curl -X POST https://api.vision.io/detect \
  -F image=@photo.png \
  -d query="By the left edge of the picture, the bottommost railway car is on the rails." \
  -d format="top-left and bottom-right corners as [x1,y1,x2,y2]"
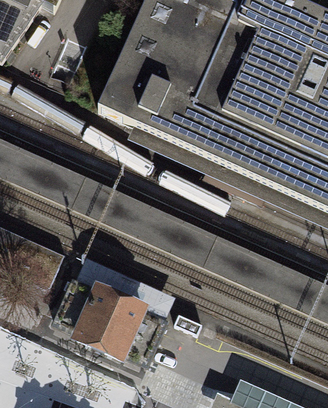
[11,86,84,136]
